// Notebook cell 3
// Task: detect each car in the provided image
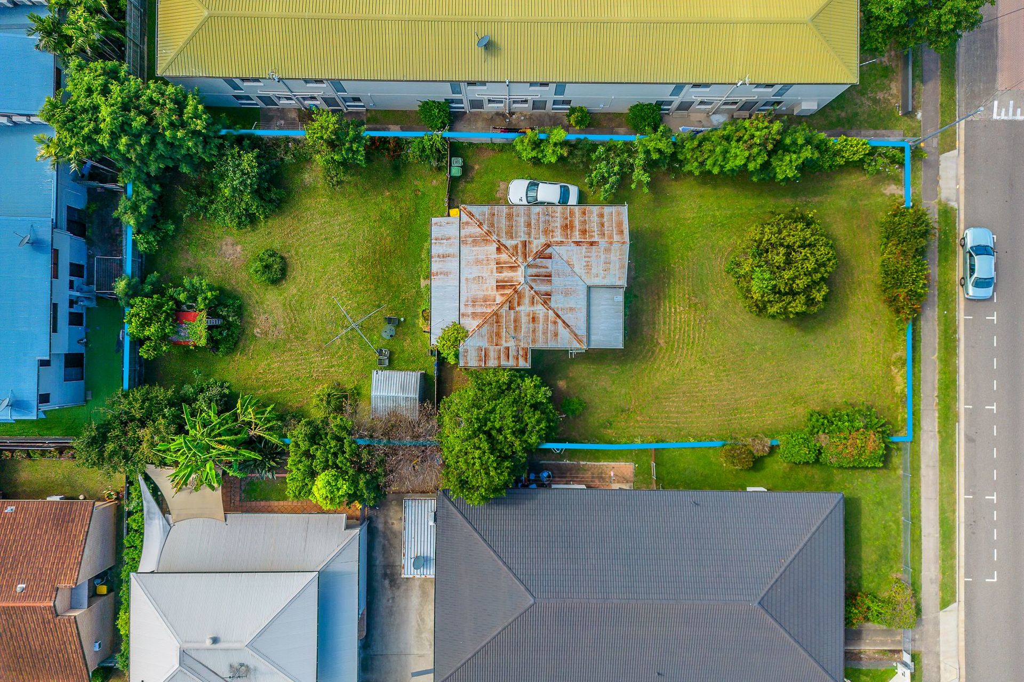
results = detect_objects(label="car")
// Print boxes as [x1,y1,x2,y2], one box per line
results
[962,228,1005,301]
[507,175,581,202]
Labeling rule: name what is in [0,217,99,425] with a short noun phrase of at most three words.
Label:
house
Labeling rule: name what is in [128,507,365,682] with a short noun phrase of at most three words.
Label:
house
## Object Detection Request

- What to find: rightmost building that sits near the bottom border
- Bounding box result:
[438,483,847,682]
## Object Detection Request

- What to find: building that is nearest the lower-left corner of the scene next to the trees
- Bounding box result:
[0,487,115,682]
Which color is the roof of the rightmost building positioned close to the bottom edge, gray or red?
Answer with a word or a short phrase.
gray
